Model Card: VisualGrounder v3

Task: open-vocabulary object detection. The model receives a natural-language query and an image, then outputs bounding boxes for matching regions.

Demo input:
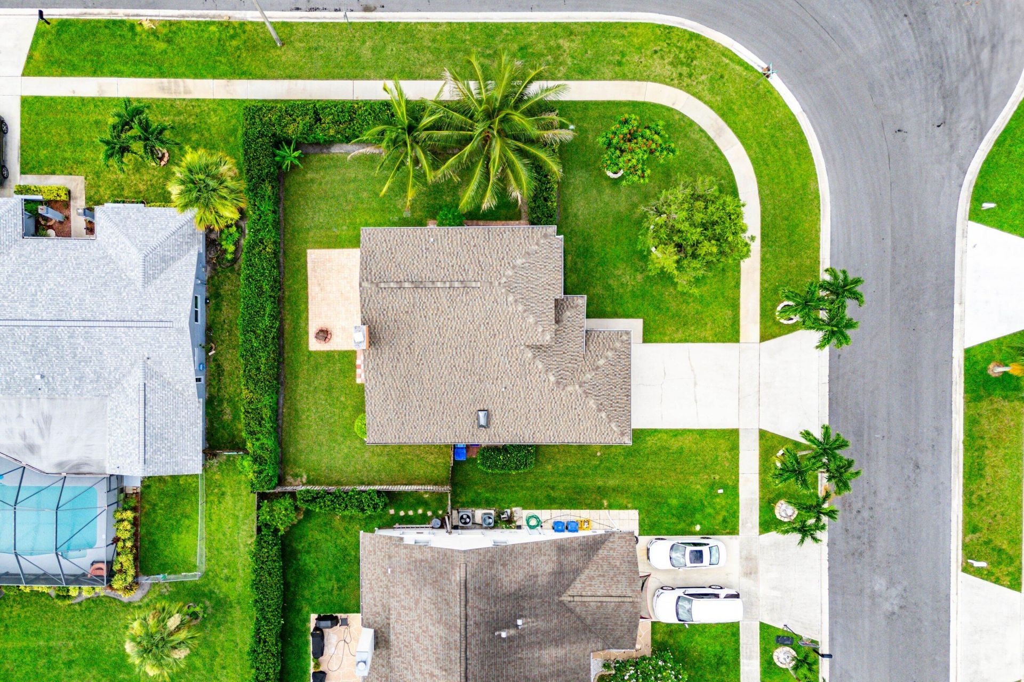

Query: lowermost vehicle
[650,582,742,626]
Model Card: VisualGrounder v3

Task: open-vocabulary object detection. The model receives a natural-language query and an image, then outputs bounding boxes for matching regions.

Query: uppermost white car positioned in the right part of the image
[643,533,727,572]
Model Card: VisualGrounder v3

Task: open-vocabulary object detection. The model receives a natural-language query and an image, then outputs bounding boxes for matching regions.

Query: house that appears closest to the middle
[352,224,634,447]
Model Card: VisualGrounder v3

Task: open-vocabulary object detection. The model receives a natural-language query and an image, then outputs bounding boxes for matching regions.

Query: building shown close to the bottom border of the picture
[355,525,641,682]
